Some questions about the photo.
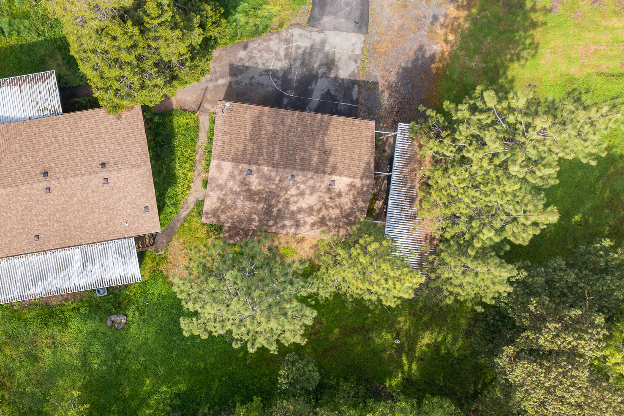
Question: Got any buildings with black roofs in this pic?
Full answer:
No, the picture doesn't show any building with a black roof.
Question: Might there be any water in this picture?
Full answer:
No, the picture contains no water.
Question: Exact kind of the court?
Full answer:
The court is a basketball court.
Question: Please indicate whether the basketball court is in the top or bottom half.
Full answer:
The basketball court sits in the top half of the picture.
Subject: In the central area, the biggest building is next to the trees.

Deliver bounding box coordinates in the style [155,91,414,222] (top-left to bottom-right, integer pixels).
[201,99,377,249]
